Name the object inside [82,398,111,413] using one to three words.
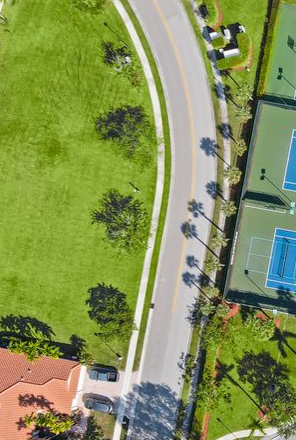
car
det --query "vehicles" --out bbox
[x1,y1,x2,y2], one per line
[86,369,118,382]
[82,398,111,413]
